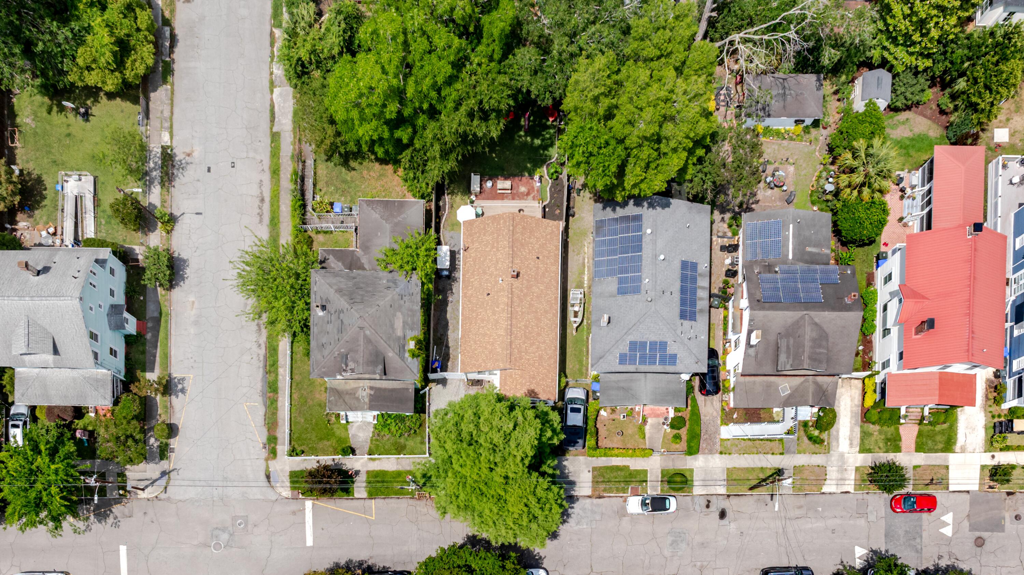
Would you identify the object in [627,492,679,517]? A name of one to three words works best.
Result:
car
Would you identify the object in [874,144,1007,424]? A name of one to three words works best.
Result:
house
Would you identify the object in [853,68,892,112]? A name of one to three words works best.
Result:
shed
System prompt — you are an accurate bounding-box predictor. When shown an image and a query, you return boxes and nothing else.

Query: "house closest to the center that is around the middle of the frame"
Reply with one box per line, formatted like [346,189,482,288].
[458,212,562,413]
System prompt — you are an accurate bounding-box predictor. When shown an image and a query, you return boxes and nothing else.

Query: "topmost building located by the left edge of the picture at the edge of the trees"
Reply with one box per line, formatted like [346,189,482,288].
[0,247,146,423]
